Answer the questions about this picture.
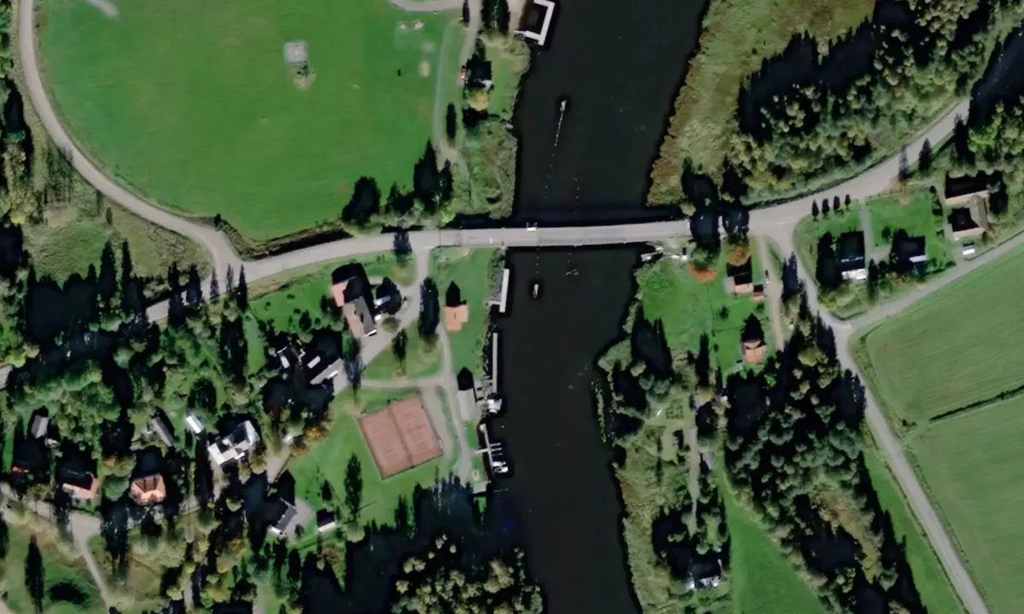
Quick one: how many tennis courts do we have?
1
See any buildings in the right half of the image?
Yes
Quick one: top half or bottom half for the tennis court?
bottom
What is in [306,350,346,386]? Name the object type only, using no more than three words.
shed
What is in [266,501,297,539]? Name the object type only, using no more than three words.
house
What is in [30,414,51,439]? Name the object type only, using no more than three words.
shed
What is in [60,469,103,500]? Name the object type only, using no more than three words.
house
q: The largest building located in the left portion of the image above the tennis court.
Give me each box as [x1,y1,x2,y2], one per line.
[329,276,378,340]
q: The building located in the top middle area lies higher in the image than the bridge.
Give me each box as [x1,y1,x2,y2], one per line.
[466,67,493,89]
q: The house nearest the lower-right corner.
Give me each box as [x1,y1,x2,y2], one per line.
[684,566,724,591]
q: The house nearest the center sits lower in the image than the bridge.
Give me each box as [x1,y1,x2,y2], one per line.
[443,304,468,332]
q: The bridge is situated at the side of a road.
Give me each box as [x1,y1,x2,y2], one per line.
[445,218,693,248]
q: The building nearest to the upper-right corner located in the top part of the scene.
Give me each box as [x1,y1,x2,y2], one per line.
[944,186,993,241]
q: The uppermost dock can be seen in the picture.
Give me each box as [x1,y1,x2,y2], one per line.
[517,0,555,45]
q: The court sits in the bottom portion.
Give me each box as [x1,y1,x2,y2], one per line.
[359,396,443,479]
